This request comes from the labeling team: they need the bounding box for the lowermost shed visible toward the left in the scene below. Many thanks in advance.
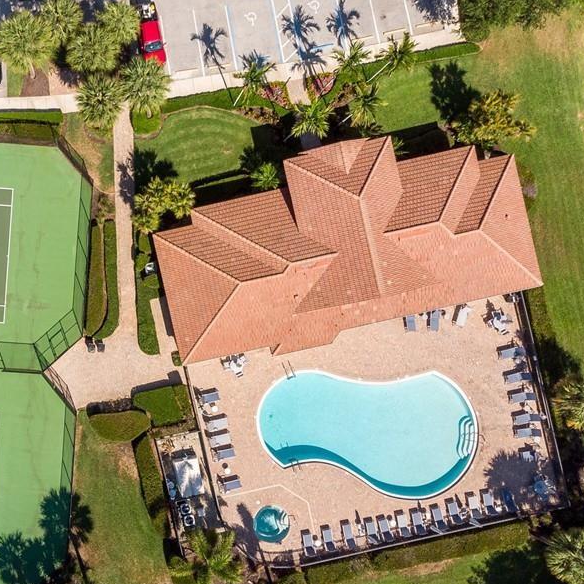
[168,449,205,496]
